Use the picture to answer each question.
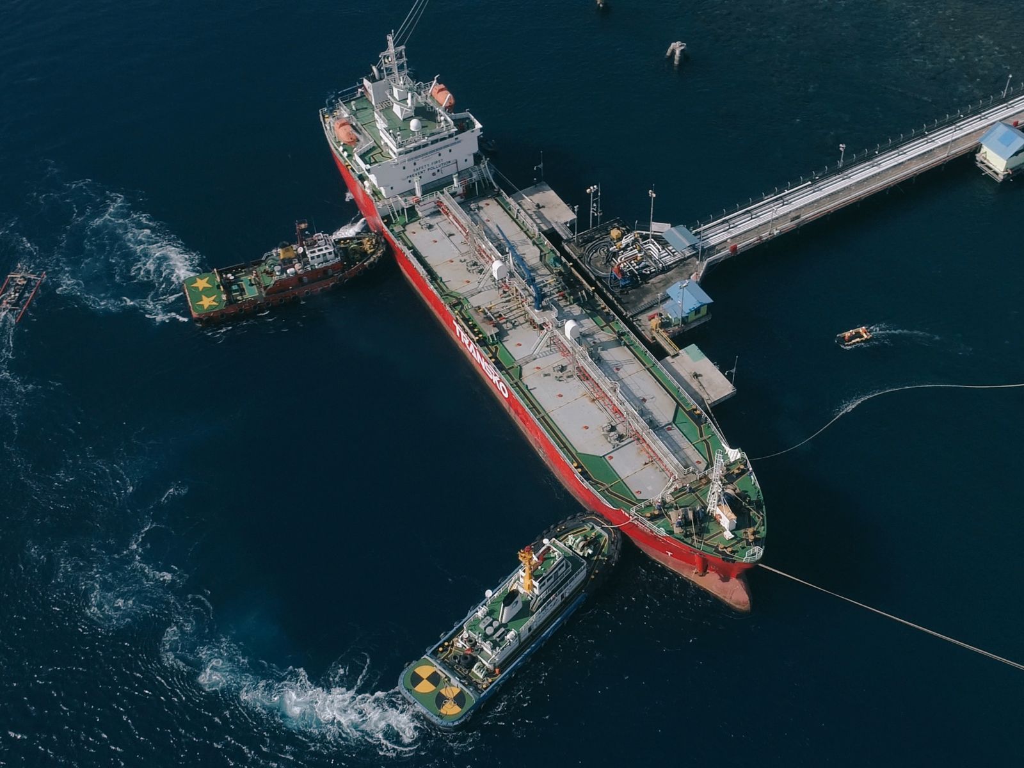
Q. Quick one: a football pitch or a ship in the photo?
ship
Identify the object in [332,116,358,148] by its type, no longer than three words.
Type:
boat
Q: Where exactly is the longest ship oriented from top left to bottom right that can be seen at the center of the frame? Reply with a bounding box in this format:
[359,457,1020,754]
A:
[321,25,763,611]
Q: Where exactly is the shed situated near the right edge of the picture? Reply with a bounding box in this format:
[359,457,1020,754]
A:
[966,123,1024,192]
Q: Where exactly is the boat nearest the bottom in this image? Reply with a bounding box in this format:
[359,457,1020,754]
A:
[399,511,630,734]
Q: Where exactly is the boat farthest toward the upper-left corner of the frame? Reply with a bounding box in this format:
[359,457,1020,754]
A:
[0,268,48,320]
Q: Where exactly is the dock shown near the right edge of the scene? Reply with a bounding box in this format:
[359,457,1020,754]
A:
[689,84,1024,268]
